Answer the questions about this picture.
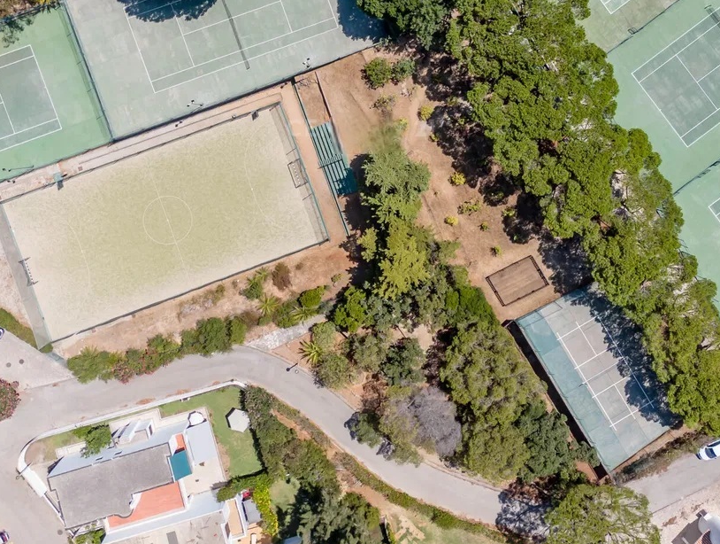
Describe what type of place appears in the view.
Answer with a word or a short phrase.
sports ground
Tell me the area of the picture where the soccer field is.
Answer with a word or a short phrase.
left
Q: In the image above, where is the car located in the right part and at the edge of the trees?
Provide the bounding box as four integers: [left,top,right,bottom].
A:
[695,436,720,461]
